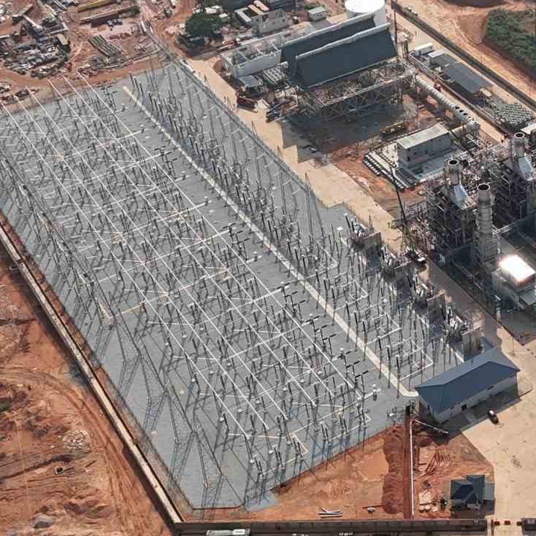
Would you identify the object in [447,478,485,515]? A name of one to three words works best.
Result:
building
